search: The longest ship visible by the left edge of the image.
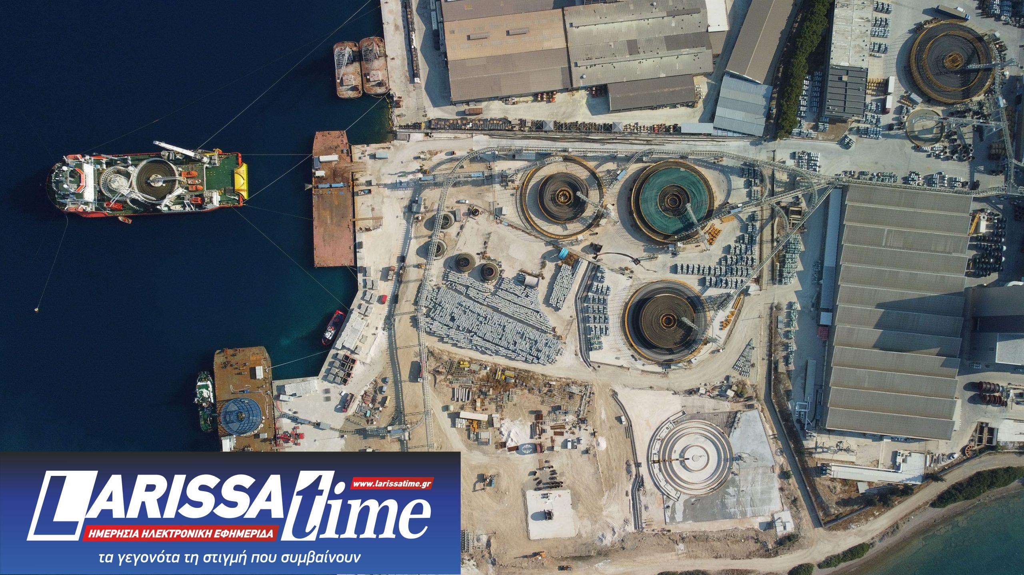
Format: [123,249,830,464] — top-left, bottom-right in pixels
[45,139,252,216]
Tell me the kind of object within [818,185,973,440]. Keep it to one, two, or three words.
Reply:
building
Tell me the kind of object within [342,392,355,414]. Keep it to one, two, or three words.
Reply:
vehicle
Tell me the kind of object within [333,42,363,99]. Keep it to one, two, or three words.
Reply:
ship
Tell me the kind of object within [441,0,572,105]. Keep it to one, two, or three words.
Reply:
building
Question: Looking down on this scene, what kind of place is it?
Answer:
port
